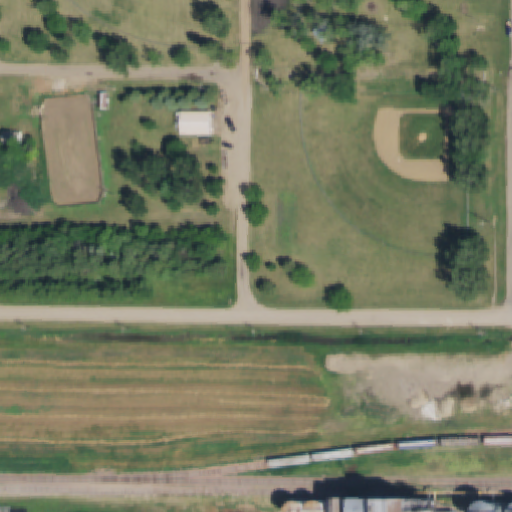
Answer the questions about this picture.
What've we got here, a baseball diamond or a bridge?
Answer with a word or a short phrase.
baseball diamond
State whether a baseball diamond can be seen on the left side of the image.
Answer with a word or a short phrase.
No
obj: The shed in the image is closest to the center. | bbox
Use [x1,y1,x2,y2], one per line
[178,111,213,135]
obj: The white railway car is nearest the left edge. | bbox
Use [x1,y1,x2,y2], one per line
[267,454,311,469]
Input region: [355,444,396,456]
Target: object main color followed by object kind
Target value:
white rail car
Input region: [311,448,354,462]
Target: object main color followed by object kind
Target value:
white rail car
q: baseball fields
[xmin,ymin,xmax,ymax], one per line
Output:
[299,84,468,256]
